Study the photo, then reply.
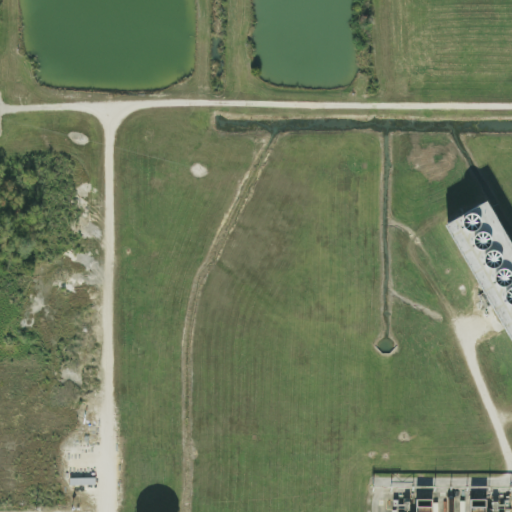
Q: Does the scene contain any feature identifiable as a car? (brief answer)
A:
No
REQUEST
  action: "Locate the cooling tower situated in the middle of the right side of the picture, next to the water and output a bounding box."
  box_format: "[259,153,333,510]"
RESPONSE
[444,200,512,342]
